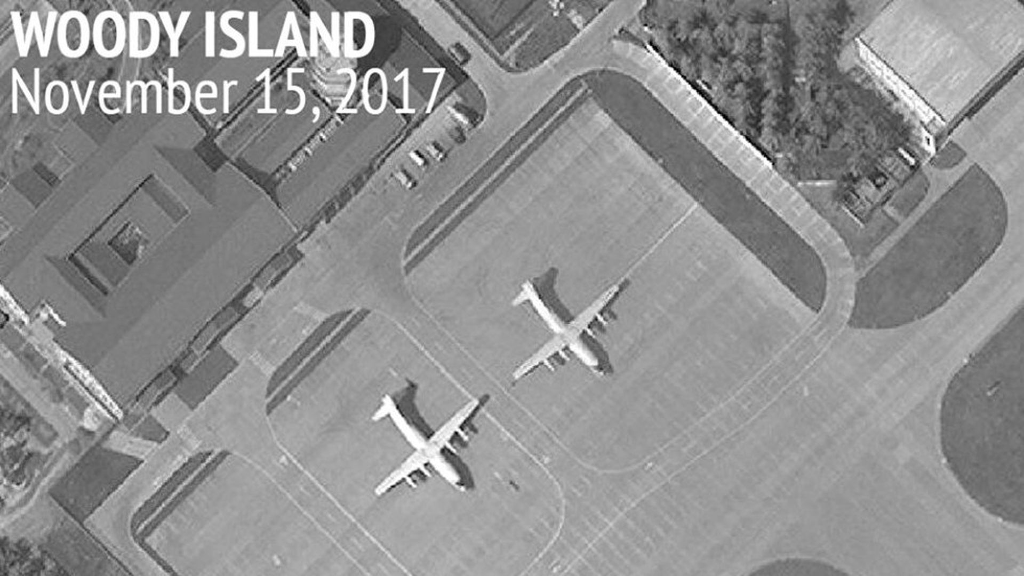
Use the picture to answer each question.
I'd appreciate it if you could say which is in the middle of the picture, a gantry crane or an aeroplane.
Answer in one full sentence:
What appears in the middle of the picture is an aeroplane.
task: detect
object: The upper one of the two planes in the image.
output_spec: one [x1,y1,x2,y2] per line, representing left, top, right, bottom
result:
[510,277,619,379]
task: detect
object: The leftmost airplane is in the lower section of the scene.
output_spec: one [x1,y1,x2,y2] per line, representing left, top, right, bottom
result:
[371,390,480,492]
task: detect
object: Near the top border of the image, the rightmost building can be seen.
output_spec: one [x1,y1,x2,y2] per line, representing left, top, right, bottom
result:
[854,0,1024,139]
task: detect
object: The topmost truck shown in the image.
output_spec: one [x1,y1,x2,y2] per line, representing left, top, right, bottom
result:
[447,40,469,65]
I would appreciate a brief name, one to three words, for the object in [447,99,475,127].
bus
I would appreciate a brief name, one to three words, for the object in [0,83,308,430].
building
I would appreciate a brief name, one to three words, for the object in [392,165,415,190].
truck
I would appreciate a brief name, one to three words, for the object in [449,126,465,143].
car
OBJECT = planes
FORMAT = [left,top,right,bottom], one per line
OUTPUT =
[510,277,619,379]
[371,390,480,492]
